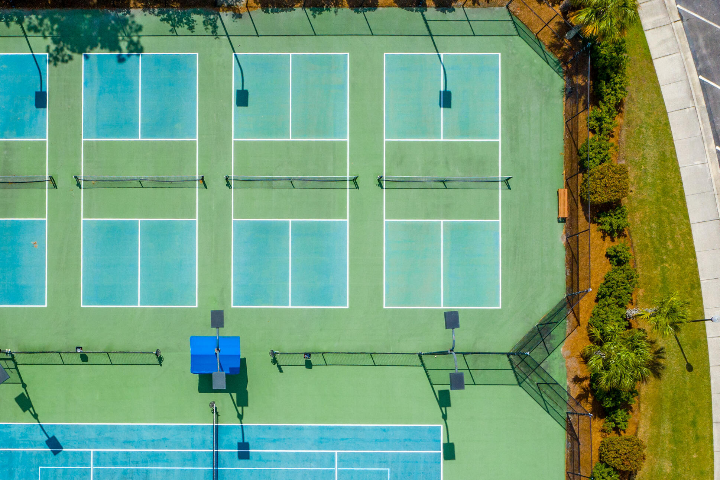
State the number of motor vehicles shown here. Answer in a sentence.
There are no motor vehicles in this view.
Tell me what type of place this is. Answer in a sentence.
This image shows a sports ground.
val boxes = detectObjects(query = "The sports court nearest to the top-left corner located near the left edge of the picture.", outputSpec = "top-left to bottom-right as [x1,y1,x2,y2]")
[0,54,47,139]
